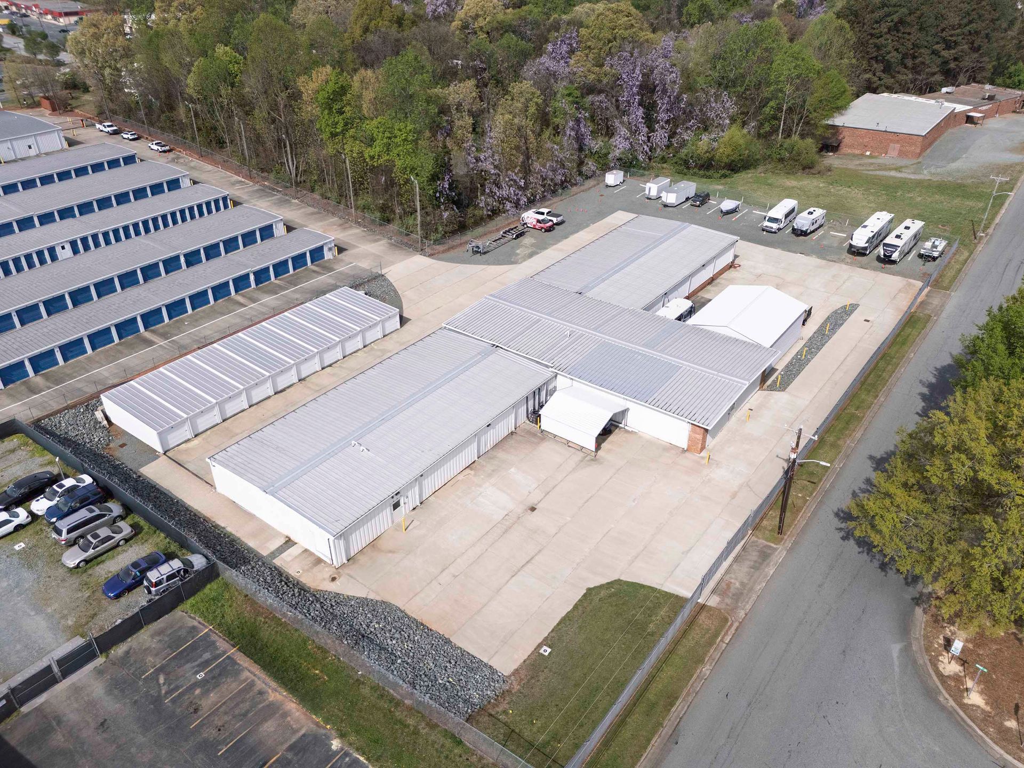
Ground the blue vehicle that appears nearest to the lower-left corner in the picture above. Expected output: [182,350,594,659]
[98,553,167,603]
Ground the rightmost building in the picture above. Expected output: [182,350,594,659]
[816,80,1024,162]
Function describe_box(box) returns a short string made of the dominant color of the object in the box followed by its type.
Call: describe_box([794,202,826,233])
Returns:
white vehicle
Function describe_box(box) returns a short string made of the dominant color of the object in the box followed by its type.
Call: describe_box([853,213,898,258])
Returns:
white vehicle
